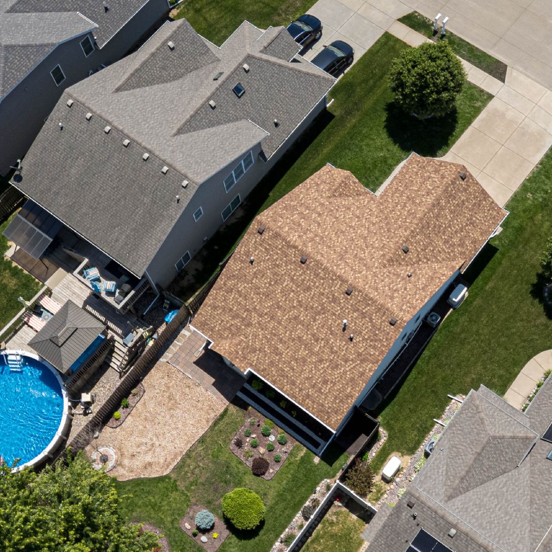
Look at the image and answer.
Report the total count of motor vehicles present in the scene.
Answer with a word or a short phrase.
two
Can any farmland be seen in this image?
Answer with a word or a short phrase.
No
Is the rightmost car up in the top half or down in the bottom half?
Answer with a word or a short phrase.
top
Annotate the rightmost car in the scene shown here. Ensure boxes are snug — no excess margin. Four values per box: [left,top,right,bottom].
[308,36,355,79]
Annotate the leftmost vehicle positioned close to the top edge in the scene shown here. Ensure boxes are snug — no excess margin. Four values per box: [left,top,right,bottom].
[288,13,323,59]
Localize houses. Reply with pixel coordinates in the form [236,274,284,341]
[189,154,510,444]
[362,367,552,552]
[6,20,341,328]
